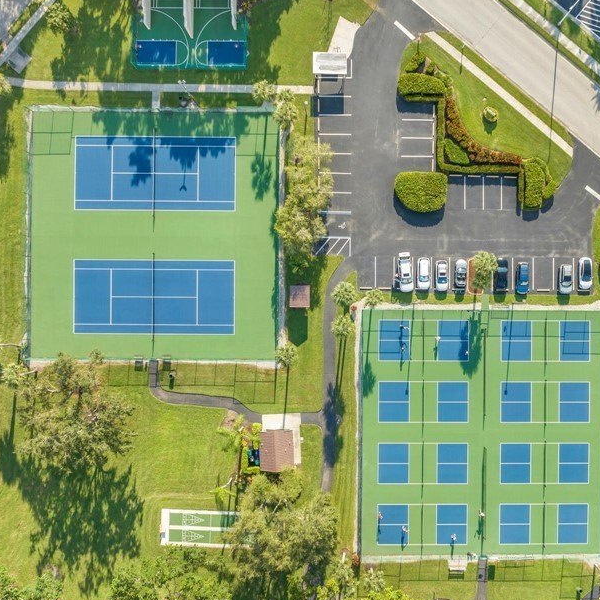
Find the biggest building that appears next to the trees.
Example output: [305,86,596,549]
[259,432,295,473]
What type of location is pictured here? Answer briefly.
sports ground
